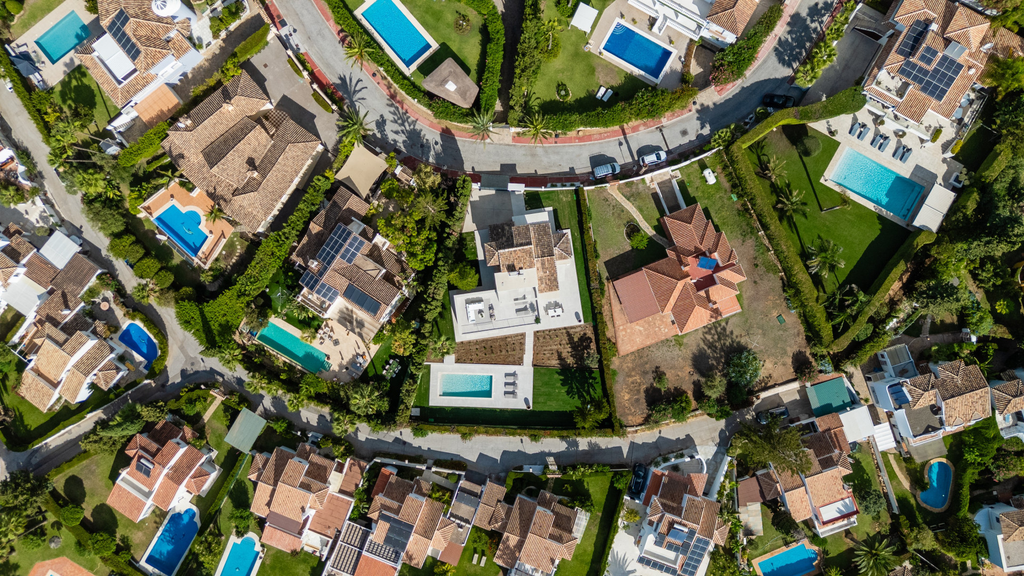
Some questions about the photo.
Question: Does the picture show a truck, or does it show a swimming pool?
swimming pool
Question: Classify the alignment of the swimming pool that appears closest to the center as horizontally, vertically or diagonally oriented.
horizontally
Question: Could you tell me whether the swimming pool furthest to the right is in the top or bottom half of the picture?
bottom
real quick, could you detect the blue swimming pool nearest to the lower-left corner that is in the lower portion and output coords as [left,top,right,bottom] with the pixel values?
[143,506,199,576]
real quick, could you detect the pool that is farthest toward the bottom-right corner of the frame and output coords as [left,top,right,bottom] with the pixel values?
[918,459,955,511]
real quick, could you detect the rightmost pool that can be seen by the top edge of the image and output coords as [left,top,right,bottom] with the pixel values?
[598,16,678,84]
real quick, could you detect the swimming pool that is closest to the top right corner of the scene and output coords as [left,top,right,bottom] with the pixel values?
[827,145,927,223]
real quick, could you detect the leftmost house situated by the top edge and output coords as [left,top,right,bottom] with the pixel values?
[75,0,211,134]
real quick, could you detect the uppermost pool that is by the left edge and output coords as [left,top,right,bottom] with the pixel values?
[33,9,93,65]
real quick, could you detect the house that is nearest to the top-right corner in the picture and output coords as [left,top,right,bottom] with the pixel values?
[861,0,1024,140]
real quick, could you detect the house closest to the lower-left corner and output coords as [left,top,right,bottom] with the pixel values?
[106,416,223,523]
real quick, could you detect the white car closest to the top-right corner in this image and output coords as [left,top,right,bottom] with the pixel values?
[639,151,666,165]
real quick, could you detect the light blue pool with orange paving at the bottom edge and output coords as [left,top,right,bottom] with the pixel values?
[755,542,821,576]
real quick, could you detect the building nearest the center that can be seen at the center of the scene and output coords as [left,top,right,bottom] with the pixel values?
[454,212,571,333]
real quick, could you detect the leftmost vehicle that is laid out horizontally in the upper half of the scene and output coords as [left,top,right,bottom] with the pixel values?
[593,164,619,177]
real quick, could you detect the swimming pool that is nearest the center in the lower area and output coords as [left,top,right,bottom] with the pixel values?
[436,371,495,401]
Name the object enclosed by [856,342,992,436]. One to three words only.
house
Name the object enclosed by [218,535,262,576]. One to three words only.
swimming pool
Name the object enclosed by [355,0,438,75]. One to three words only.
swimming pool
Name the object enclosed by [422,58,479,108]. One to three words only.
shed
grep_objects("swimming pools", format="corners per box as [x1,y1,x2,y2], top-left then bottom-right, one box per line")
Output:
[436,371,495,401]
[143,506,199,576]
[151,201,210,260]
[117,321,160,371]
[755,542,821,576]
[827,145,927,223]
[598,16,678,84]
[918,459,955,511]
[218,535,262,576]
[256,320,334,373]
[355,0,438,75]
[33,9,93,65]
